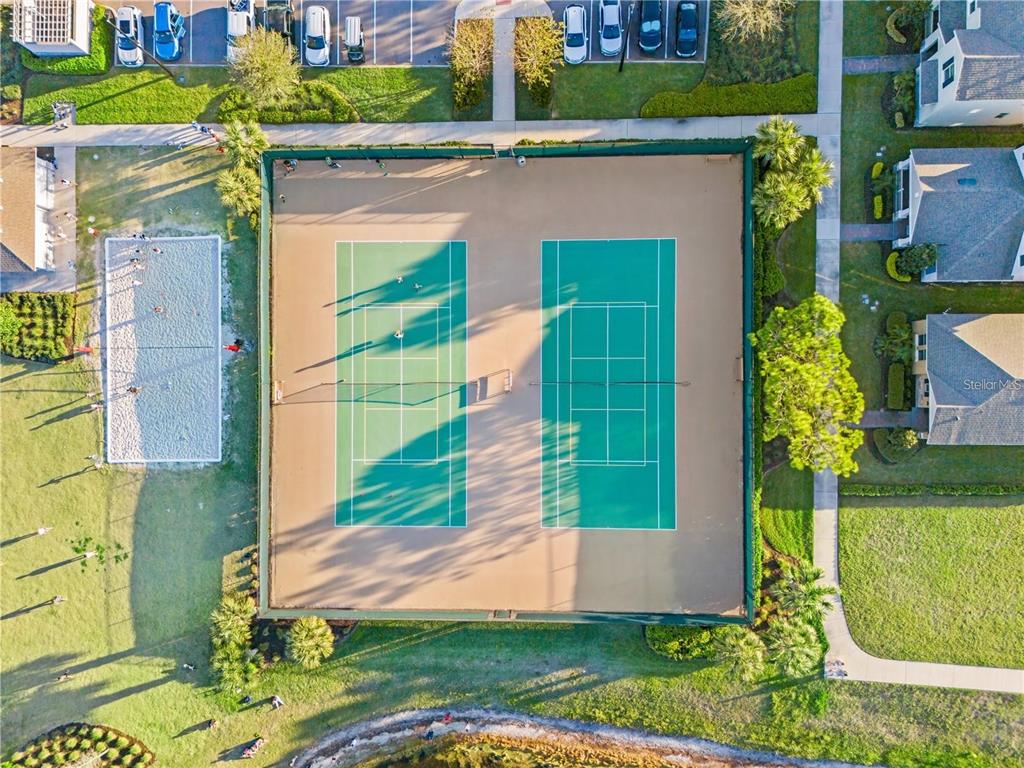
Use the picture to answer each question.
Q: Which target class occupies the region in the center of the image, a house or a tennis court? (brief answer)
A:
tennis court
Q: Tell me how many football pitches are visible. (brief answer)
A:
0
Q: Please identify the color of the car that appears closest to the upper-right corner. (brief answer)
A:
blue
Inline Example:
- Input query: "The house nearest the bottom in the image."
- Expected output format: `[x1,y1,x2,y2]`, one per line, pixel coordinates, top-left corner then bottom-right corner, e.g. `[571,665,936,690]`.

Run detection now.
[912,310,1024,445]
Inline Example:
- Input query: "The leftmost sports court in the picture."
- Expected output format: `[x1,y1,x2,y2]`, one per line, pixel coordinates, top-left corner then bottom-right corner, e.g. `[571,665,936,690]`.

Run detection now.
[104,236,222,463]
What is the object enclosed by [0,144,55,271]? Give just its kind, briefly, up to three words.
building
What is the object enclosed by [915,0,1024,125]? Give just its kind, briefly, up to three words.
house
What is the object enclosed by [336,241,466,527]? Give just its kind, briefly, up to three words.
tennis court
